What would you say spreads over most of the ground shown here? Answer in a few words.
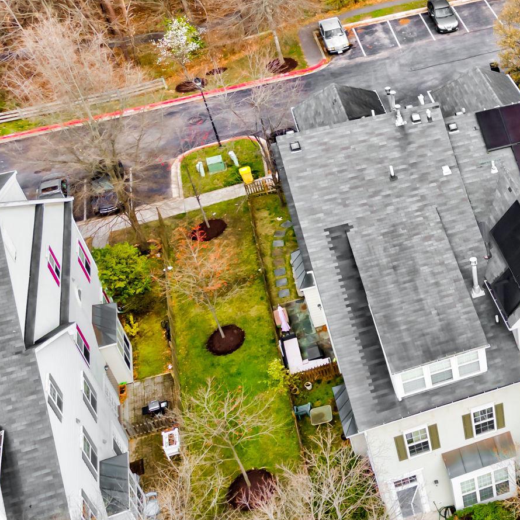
buildings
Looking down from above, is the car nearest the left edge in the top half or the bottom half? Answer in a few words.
top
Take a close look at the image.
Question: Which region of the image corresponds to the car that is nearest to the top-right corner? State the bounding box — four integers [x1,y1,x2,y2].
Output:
[424,0,460,33]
